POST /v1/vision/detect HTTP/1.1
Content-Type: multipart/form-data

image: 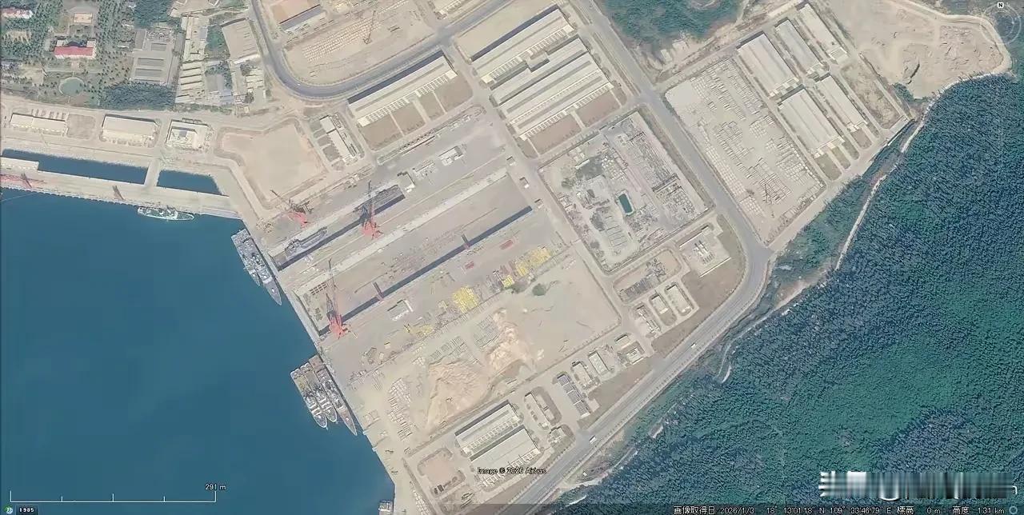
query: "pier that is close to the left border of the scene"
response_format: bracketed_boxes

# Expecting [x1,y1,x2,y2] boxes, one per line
[0,157,240,218]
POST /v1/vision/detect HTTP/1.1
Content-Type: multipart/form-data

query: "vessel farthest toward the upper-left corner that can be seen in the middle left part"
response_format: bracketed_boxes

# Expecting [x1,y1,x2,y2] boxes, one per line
[137,207,196,220]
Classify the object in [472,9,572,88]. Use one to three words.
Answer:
building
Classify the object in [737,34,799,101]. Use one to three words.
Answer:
building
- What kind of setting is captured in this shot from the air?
port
